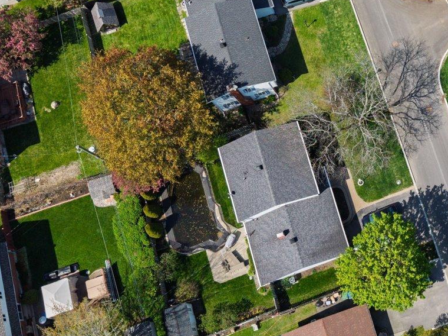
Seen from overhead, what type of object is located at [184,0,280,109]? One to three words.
house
